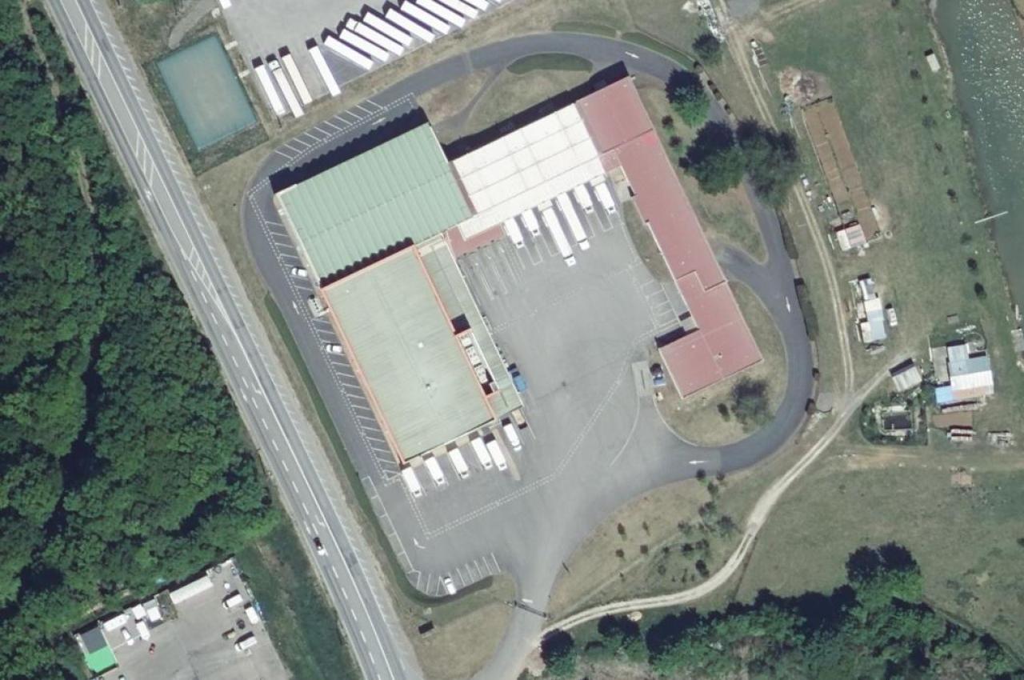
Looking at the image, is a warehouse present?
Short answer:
Yes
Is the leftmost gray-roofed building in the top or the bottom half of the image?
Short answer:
bottom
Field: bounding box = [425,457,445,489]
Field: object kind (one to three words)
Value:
vehicle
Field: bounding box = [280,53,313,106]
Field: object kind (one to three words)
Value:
trailer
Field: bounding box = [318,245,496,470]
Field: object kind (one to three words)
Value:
warehouse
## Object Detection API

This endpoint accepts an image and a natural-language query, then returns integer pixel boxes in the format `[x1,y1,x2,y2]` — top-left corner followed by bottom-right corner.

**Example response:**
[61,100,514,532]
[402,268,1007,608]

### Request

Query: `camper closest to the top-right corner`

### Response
[886,308,899,331]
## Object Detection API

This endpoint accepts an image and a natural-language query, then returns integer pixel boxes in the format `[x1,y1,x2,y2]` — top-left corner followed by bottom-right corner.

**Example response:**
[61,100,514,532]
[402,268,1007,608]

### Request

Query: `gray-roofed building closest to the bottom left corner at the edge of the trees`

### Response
[82,628,107,653]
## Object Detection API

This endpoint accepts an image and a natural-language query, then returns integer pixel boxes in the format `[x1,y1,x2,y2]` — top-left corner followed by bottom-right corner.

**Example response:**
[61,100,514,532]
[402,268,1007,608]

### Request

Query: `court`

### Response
[156,36,256,151]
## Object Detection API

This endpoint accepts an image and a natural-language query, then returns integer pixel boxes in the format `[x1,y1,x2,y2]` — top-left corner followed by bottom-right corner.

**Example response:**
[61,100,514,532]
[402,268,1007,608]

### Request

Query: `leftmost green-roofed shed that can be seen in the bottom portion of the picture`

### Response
[86,646,116,673]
